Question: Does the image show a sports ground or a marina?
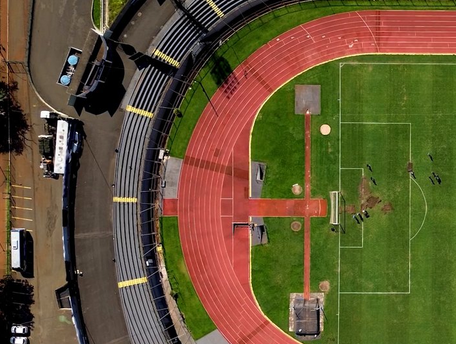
sports ground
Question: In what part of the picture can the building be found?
top left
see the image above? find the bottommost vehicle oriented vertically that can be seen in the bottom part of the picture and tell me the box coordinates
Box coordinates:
[11,226,29,270]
